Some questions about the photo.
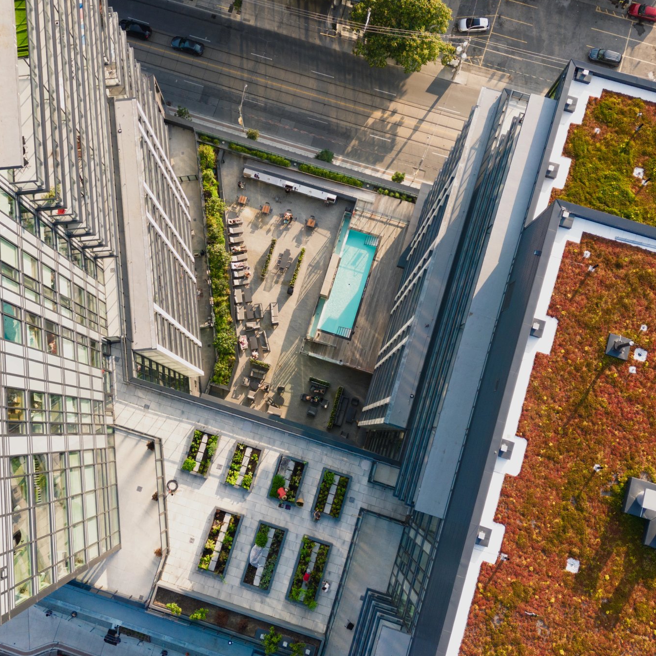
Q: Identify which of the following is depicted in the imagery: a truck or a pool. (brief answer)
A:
pool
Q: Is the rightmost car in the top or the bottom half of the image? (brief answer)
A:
top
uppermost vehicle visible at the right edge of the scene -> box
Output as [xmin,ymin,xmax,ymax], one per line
[626,1,656,24]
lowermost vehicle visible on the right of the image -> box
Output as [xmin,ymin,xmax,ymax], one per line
[586,46,625,69]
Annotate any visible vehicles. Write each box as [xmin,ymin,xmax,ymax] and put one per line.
[626,1,656,24]
[169,35,206,57]
[456,15,493,33]
[119,18,154,40]
[586,46,625,69]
